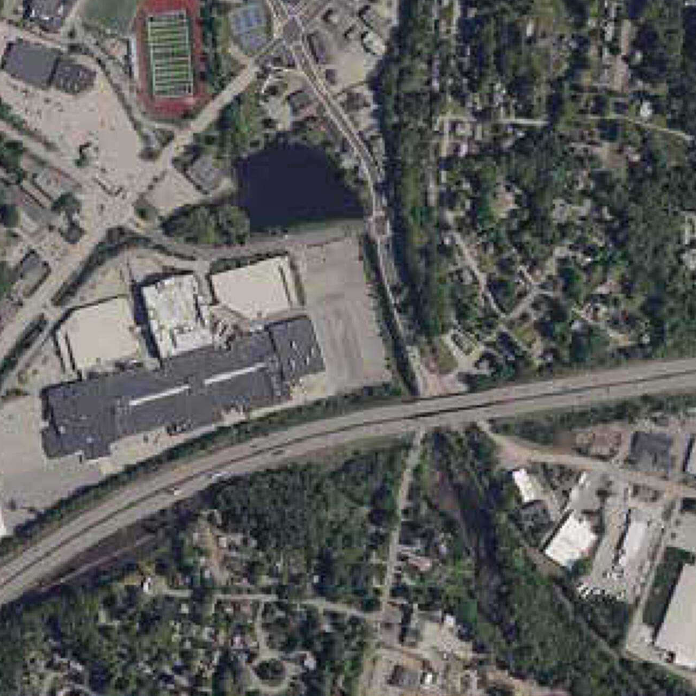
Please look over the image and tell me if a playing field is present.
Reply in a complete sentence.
Yes, the frame does contain a playing field.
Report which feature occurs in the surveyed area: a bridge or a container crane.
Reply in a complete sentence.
The one in the frame is a bridge.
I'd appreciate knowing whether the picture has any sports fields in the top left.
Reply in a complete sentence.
Yes, a sports field is visible in the top left.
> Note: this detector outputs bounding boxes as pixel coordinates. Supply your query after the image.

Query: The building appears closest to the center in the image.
[269,317,325,379]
